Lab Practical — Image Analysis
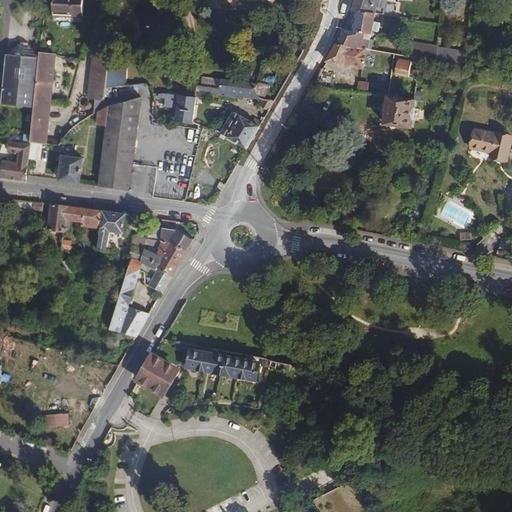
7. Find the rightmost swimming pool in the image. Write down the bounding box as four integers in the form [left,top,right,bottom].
[435,197,474,228]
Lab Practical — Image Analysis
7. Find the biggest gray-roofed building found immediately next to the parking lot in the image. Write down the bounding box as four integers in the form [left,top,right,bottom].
[96,96,140,191]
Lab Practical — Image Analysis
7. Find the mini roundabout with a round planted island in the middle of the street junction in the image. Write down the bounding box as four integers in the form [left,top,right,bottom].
[190,169,298,279]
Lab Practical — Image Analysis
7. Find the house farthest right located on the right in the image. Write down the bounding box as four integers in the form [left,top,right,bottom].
[470,127,512,163]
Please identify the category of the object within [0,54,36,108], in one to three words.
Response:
building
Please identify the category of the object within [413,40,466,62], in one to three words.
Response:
building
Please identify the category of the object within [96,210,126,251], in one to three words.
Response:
house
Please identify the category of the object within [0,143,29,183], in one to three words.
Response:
house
